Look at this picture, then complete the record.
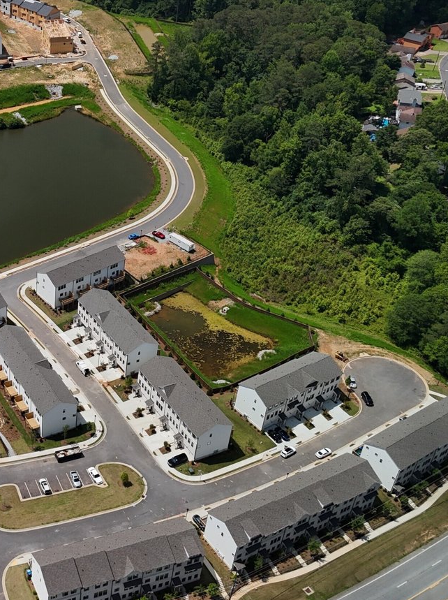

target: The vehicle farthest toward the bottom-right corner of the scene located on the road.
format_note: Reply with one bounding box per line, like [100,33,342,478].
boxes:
[315,445,332,457]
